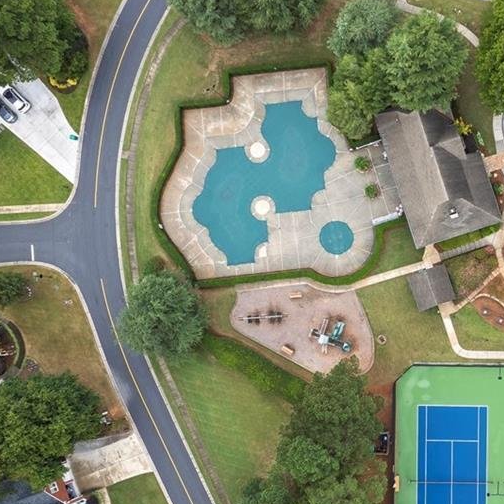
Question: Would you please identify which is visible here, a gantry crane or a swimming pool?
swimming pool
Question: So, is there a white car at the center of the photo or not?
No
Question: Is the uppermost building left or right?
right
